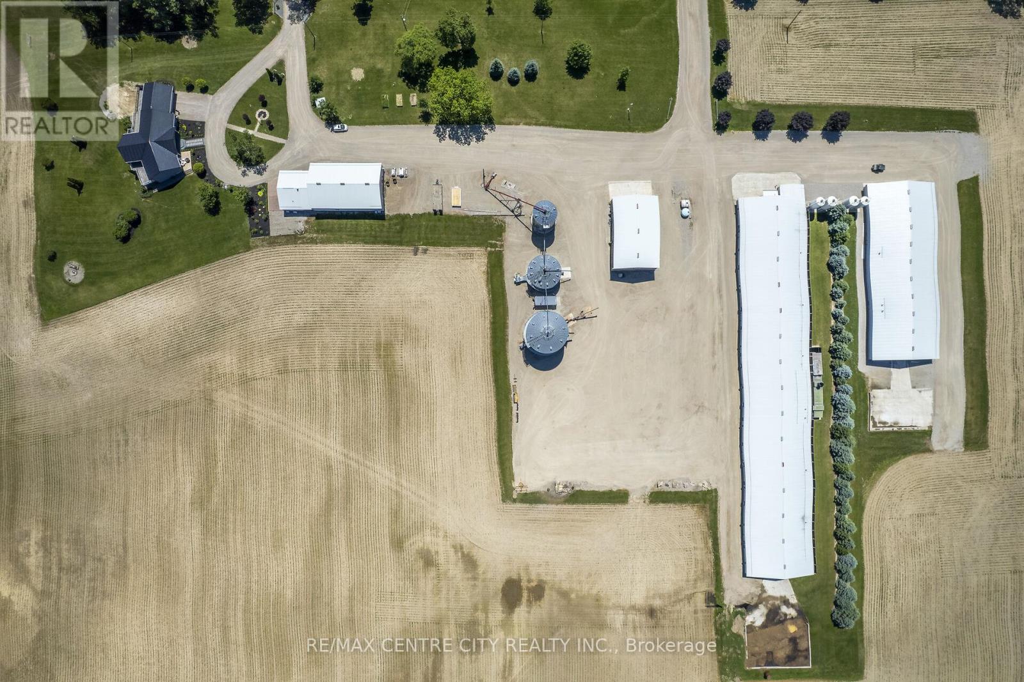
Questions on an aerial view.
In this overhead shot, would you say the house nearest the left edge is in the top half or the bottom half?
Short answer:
top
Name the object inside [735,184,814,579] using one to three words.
barn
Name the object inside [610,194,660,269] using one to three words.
shed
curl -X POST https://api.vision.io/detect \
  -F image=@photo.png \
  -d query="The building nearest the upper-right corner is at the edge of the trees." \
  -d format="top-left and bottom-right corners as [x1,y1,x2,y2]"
[860,180,940,360]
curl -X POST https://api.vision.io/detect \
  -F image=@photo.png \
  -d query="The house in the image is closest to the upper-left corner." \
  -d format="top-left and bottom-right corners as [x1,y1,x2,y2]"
[118,82,185,193]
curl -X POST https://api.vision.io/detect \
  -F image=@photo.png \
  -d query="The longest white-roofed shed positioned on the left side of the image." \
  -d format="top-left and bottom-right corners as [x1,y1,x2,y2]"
[277,163,383,211]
